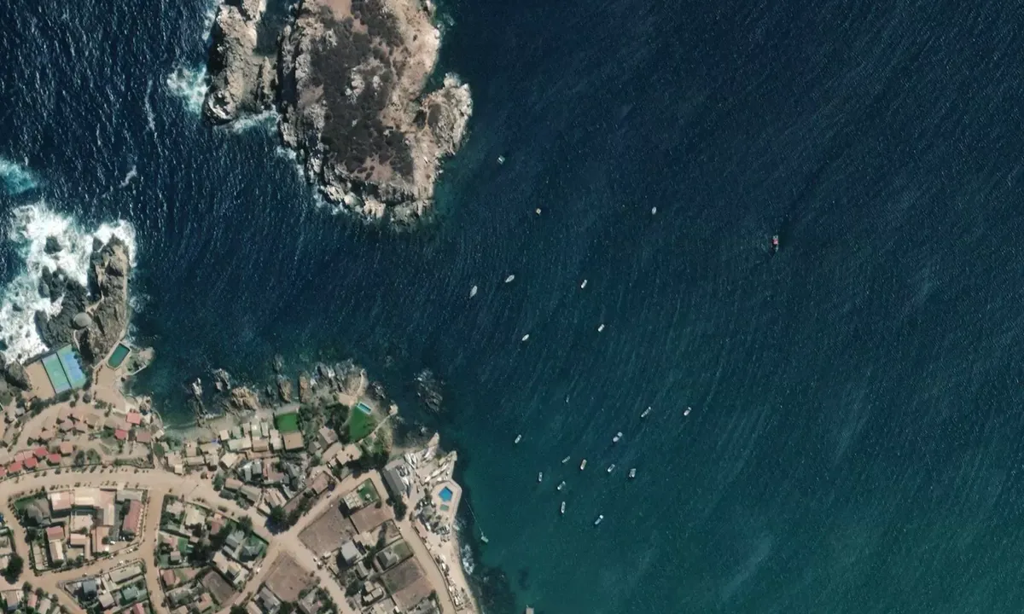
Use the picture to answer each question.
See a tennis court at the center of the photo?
No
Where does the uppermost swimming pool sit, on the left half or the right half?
left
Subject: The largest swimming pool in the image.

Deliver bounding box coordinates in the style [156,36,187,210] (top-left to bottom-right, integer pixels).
[106,341,131,370]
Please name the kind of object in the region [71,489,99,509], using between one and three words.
house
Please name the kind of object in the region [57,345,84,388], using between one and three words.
tennis court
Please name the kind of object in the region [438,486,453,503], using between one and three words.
swimming pool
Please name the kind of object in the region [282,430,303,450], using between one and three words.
house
